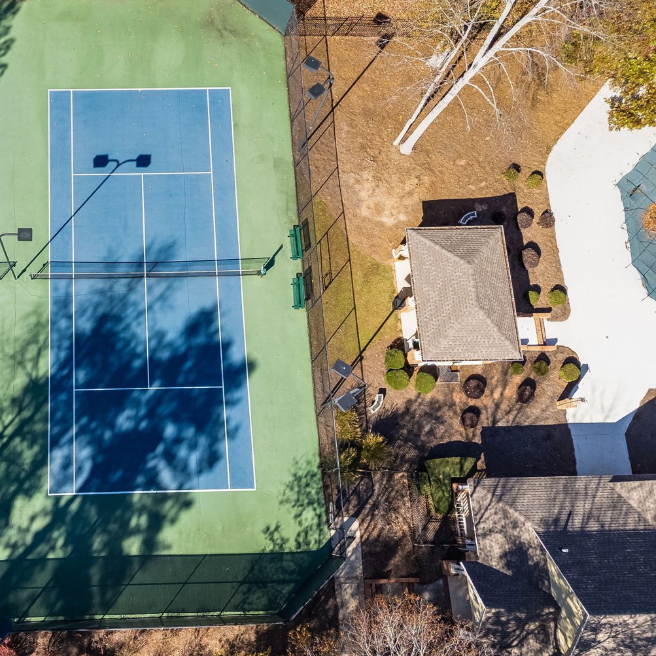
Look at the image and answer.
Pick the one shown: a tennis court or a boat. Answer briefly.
tennis court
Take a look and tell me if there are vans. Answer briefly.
No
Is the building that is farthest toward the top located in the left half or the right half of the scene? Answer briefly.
right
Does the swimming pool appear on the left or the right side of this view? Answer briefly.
right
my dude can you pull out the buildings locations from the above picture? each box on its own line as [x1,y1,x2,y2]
[419,473,656,656]
[390,224,526,369]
